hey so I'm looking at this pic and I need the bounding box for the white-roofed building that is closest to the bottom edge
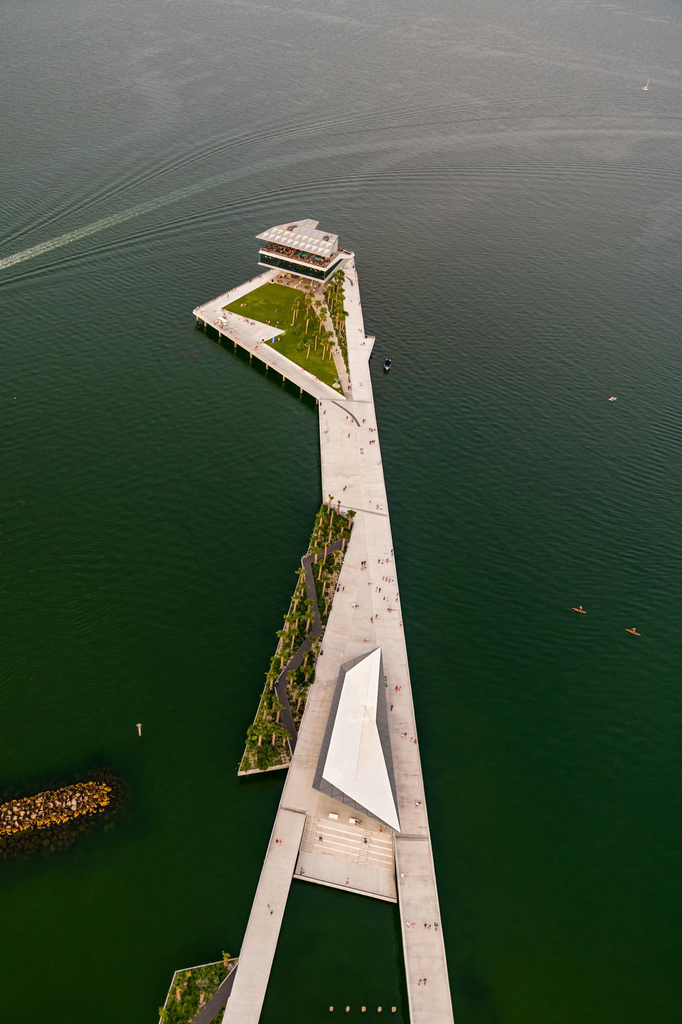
[311,646,401,834]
